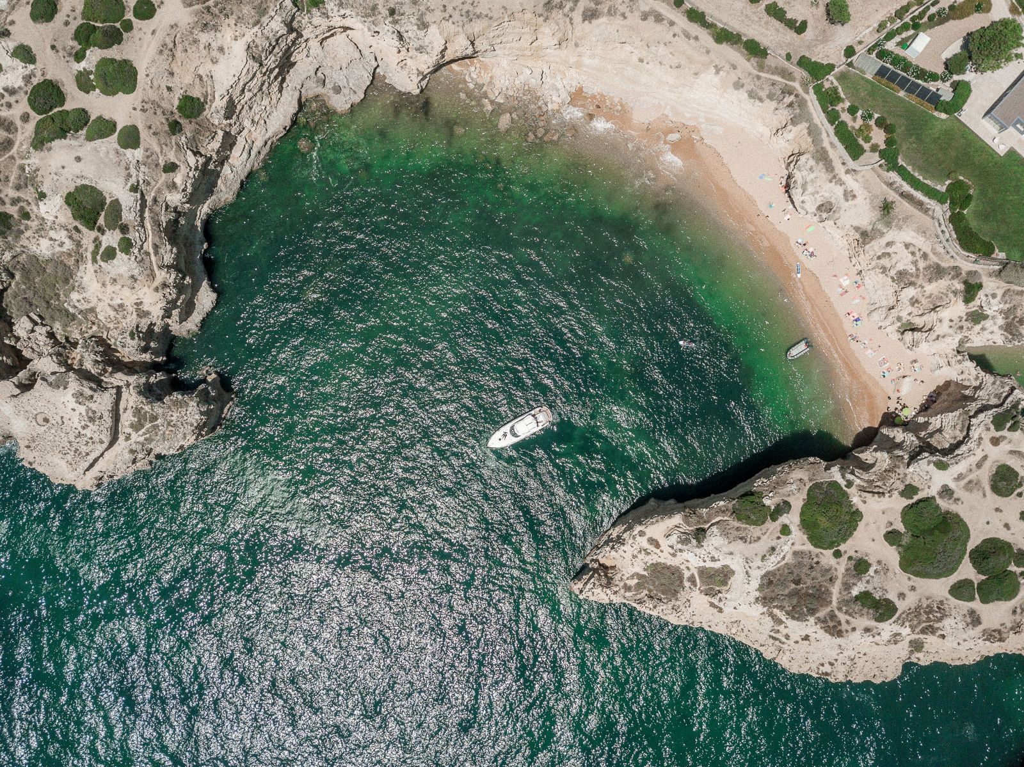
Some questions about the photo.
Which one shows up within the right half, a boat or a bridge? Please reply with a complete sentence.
Visible within the right half is a boat.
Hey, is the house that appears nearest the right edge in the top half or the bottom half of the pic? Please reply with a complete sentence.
The house that appears nearest the right edge sits in the top half of the picture.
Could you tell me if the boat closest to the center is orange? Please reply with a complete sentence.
No, the color of the boat closest to the center is white.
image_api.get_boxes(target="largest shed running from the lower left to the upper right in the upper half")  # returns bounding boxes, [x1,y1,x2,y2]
[902,32,931,63]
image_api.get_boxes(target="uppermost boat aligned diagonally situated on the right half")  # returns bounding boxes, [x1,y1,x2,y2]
[788,340,811,358]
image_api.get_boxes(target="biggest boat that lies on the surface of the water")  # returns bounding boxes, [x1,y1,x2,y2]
[487,406,553,447]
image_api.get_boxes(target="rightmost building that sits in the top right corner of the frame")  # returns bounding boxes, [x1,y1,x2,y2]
[985,75,1024,152]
